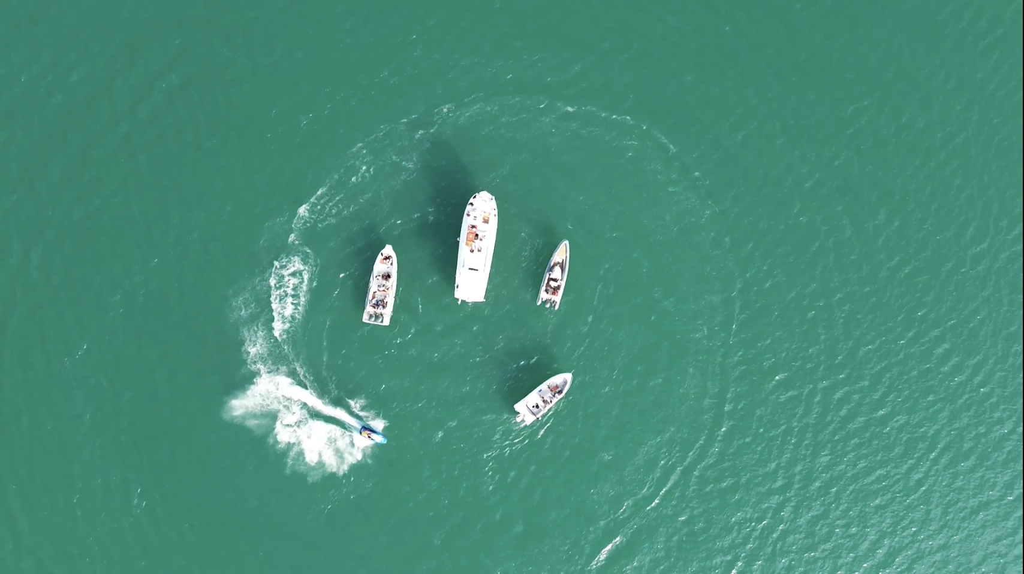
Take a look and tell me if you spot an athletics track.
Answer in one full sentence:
No, the photo shows no athletics track.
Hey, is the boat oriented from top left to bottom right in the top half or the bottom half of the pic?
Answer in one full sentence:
Seen from above, the boat oriented from top left to bottom right lies in the bottom half of the view.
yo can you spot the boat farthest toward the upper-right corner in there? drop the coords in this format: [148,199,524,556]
[537,239,571,310]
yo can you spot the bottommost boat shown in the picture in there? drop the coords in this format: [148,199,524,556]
[358,423,386,443]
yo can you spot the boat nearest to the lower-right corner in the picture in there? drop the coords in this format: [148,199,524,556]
[513,371,574,427]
